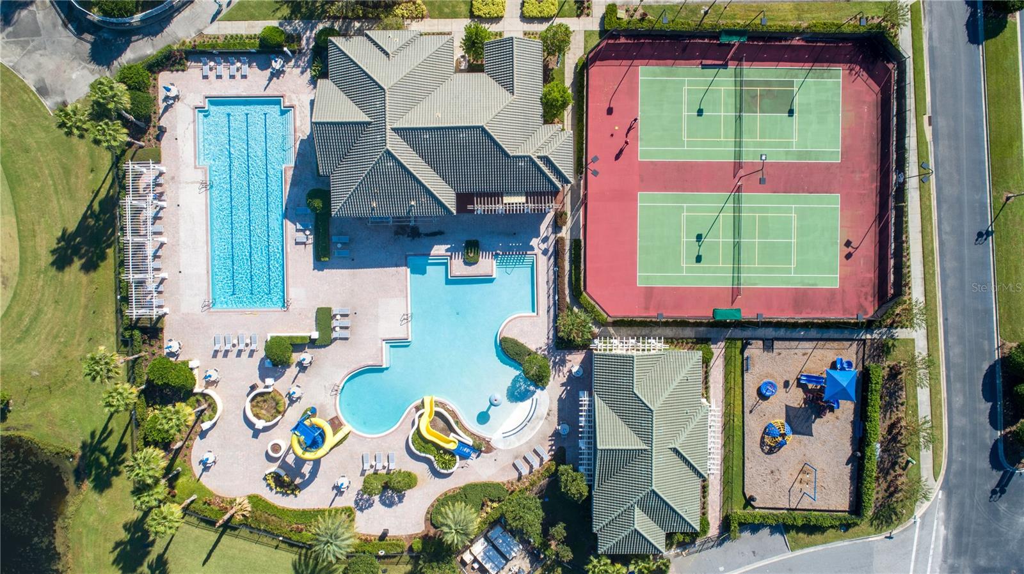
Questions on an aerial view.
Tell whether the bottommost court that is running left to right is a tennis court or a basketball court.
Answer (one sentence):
From above, the bottommost court that is running left to right can be identified as a tennis court.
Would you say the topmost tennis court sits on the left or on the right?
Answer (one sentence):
It is on the right.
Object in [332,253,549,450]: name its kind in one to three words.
swimming pool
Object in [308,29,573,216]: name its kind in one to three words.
building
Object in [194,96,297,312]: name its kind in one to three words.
swimming pool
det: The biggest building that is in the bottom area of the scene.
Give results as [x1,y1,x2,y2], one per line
[593,350,708,555]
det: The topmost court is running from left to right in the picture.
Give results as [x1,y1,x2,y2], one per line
[588,39,895,177]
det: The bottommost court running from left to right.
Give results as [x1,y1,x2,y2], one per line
[587,177,893,318]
